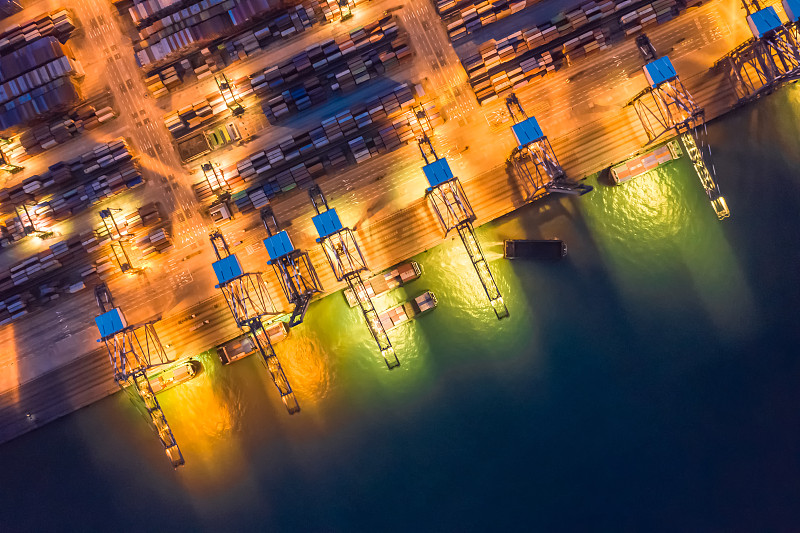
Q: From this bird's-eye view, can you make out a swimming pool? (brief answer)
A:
No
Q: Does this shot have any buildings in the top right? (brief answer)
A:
No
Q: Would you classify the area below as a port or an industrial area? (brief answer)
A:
port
